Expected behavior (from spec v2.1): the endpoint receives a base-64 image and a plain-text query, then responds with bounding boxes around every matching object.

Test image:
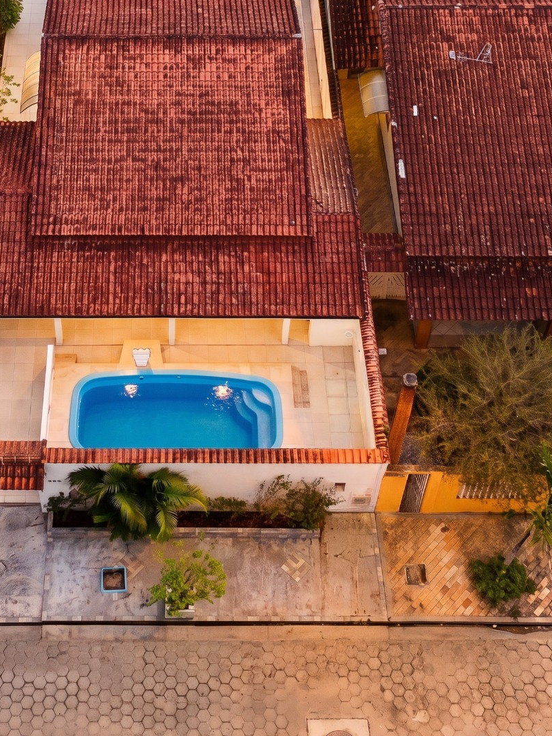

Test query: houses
[0,0,366,343]
[372,0,552,357]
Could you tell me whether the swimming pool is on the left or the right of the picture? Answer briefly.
left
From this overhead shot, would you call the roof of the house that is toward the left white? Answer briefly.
No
